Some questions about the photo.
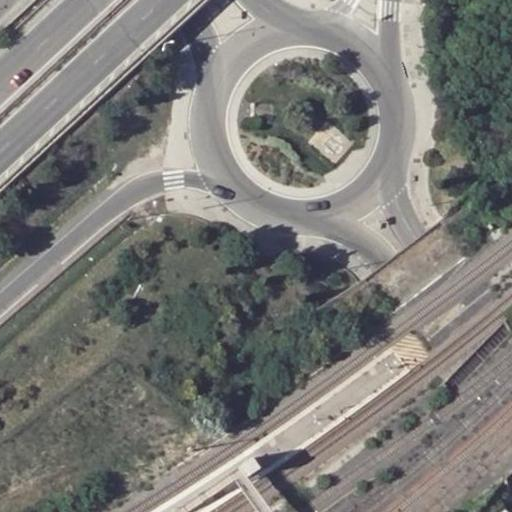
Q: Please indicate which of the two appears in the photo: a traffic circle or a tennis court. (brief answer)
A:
traffic circle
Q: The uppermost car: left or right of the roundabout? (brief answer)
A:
on its left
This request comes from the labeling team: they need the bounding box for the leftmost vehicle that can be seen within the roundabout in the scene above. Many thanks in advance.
[211,186,234,199]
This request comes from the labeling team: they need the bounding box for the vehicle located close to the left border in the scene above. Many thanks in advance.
[11,66,32,86]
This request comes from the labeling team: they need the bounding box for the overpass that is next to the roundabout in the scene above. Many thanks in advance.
[100,0,208,54]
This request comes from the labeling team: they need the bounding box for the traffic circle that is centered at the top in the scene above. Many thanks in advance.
[190,4,415,240]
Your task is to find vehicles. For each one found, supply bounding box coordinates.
[306,200,328,211]
[211,186,234,199]
[11,66,32,86]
